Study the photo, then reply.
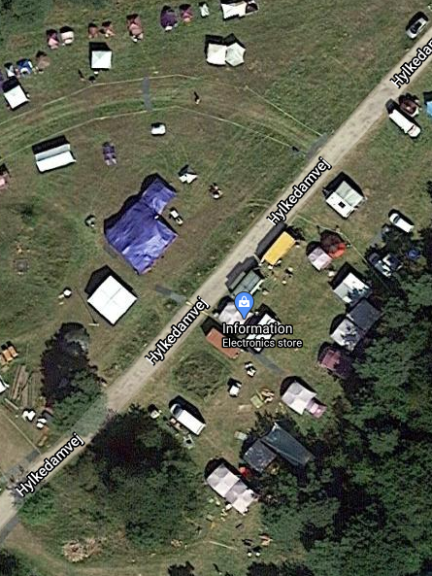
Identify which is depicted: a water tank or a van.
van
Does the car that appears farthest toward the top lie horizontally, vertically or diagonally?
diagonally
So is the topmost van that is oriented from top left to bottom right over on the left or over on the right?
right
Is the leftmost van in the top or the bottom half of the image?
bottom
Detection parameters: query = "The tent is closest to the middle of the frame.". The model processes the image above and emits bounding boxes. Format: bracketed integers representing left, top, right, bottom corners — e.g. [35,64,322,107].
[219,298,252,329]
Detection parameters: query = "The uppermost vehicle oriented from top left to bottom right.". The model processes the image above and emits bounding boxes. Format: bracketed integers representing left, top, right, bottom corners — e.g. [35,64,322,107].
[388,103,423,137]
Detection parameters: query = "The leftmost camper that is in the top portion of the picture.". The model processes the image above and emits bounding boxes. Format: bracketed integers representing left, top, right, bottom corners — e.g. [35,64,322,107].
[326,191,356,220]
